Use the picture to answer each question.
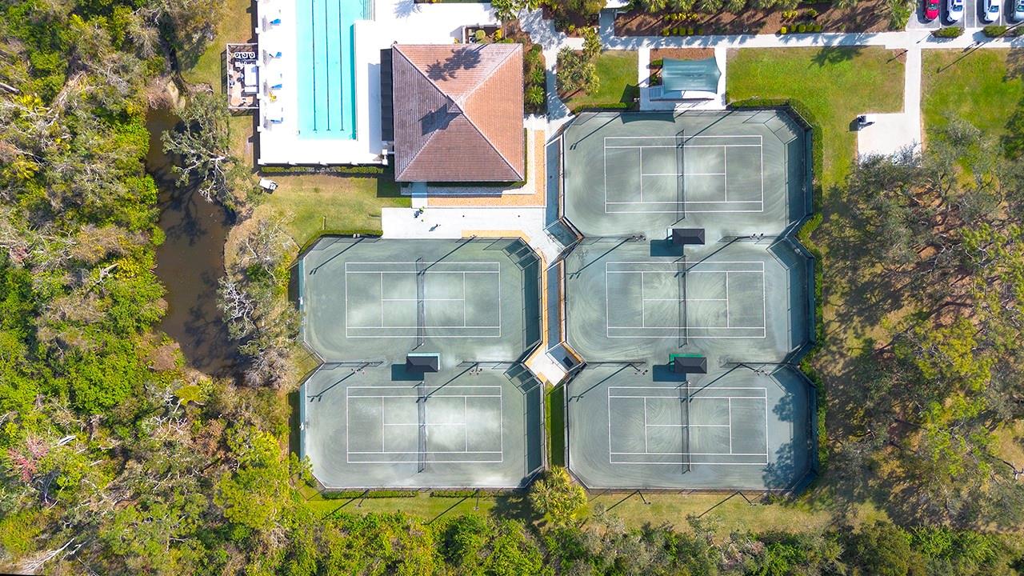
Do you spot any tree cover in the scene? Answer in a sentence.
Yes, tree cover shows up in the scene.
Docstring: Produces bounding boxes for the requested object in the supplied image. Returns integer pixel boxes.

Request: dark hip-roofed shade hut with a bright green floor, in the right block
[670,355,706,373]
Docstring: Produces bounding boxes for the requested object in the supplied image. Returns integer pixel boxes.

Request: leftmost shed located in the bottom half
[406,354,440,371]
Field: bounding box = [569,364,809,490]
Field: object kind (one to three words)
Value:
tennis court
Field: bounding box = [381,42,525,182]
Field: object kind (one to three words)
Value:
building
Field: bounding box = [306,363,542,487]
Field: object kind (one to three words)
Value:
tennis court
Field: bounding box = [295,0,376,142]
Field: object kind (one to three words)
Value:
swimming pool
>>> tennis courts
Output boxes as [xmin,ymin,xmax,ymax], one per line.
[566,110,805,238]
[566,238,806,364]
[305,238,540,363]
[306,363,542,487]
[569,364,809,490]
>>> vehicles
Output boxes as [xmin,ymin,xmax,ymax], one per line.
[984,0,1002,21]
[925,0,942,20]
[949,0,967,22]
[258,179,276,191]
[1013,0,1024,21]
[857,115,876,127]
